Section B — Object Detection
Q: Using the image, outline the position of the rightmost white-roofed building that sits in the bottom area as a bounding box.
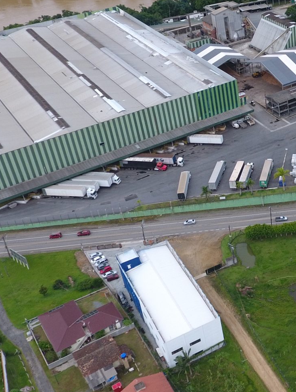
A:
[117,241,231,375]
